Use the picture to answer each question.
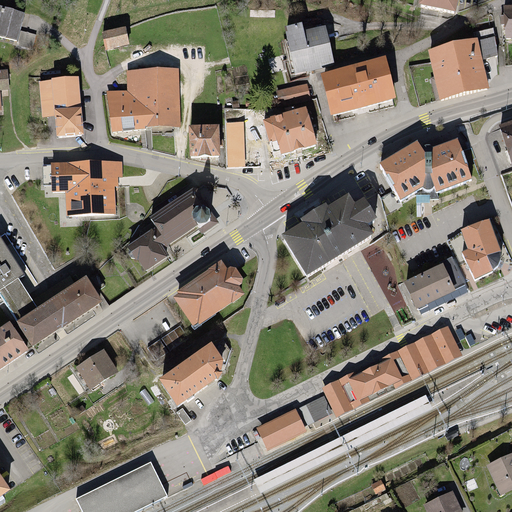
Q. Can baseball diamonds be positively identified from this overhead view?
No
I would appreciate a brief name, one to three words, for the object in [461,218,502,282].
house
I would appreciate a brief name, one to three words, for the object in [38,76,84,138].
house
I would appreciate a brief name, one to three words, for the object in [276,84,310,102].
shed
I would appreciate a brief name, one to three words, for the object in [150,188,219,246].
building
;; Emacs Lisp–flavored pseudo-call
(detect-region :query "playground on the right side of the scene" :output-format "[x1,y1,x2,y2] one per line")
[362,240,407,311]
